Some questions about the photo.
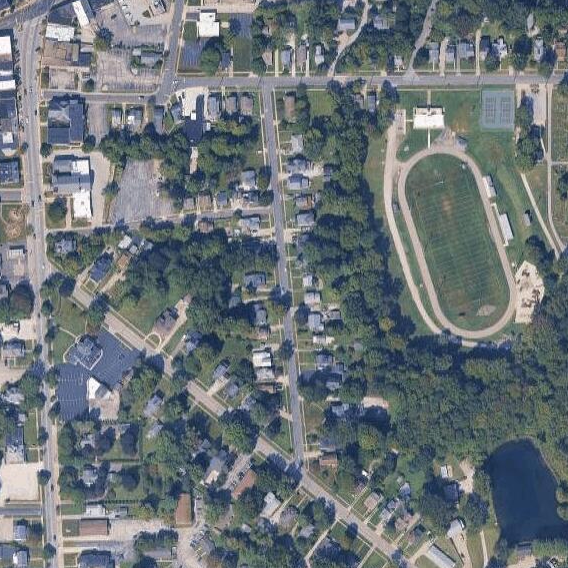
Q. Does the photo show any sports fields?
Yes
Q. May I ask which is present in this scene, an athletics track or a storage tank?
athletics track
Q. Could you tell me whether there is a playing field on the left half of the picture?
No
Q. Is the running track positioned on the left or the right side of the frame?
right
